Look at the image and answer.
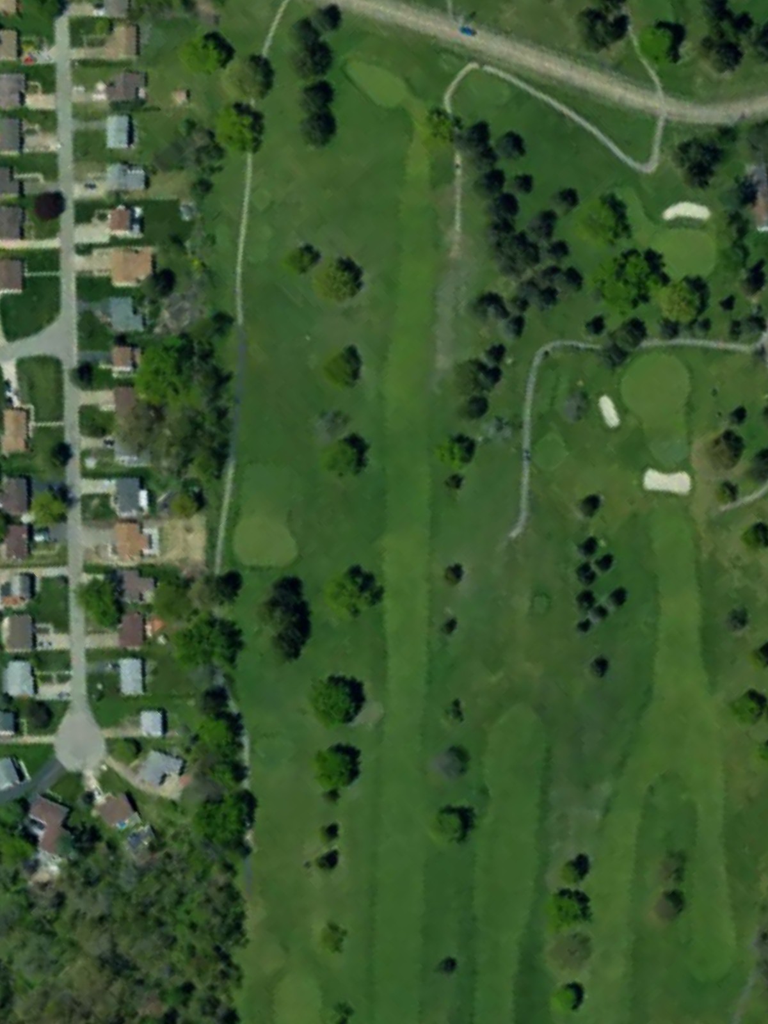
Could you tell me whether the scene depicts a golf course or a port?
golf course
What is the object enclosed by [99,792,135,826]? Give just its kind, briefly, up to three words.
house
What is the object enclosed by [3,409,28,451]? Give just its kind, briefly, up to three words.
house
